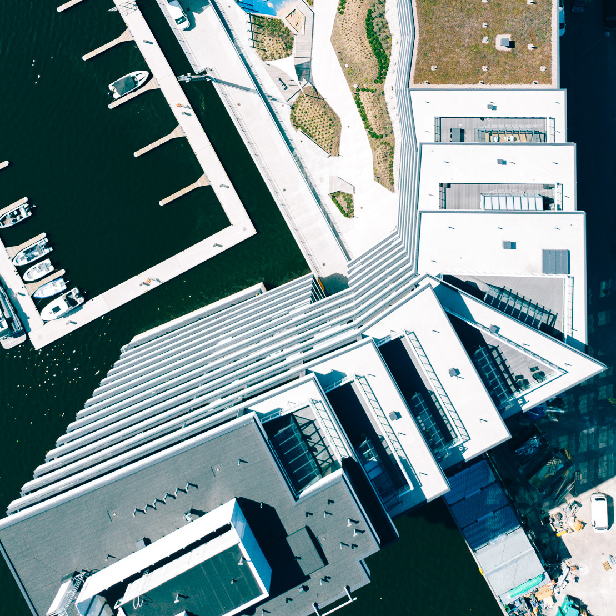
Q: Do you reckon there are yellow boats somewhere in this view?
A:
No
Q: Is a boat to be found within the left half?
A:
Yes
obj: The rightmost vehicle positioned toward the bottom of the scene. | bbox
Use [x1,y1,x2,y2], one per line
[591,490,609,528]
